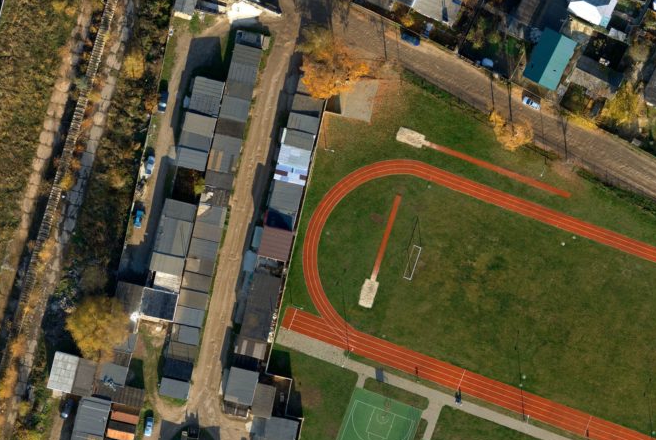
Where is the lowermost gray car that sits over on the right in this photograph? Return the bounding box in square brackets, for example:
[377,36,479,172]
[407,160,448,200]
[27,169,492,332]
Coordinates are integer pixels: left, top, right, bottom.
[520,95,540,109]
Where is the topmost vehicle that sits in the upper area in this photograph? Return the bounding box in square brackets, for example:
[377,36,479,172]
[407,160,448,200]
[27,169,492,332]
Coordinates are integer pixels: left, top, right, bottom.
[402,32,420,44]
